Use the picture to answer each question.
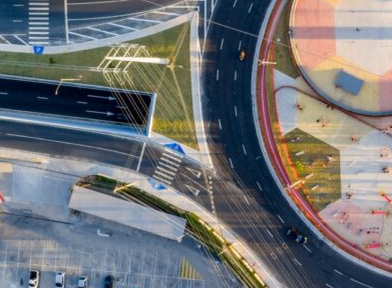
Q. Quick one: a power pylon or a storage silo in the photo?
power pylon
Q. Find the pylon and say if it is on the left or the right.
left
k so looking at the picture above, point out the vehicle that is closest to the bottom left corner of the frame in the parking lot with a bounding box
[29,267,42,288]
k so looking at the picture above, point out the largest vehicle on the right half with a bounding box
[286,228,307,244]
